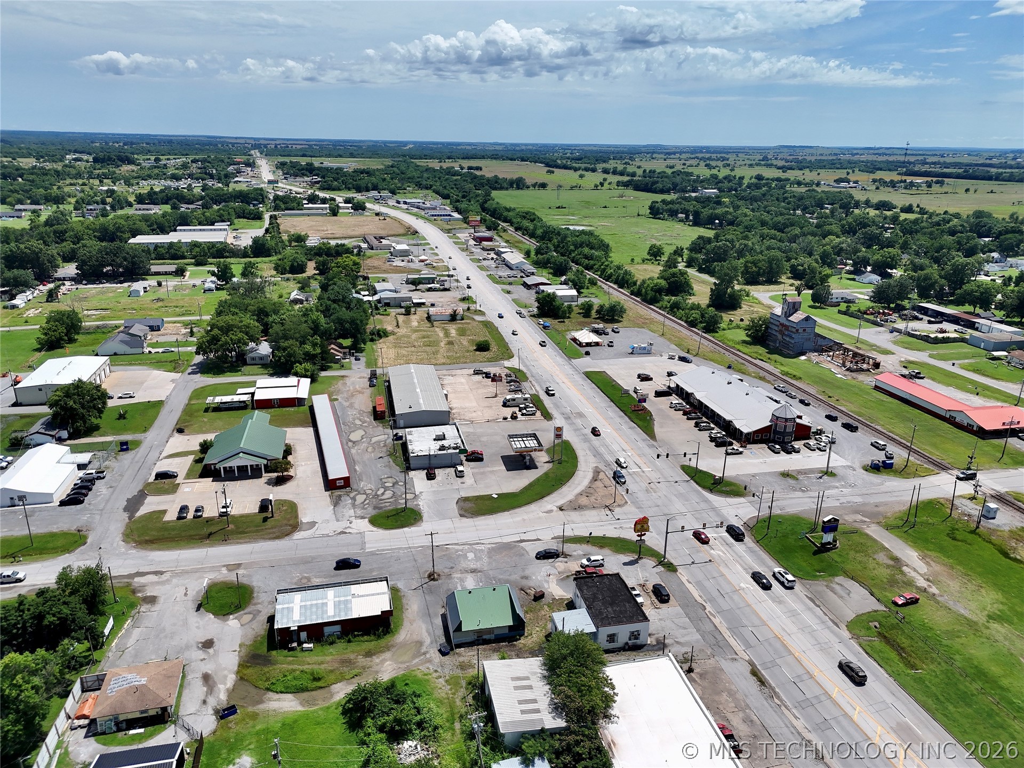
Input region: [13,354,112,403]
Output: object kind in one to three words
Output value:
building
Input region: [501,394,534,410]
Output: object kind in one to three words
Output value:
camper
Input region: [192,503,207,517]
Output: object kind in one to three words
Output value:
car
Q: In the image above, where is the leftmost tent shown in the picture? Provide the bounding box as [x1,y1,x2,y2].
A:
[574,328,603,347]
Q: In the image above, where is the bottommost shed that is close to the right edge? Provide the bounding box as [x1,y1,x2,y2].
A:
[979,503,1005,522]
